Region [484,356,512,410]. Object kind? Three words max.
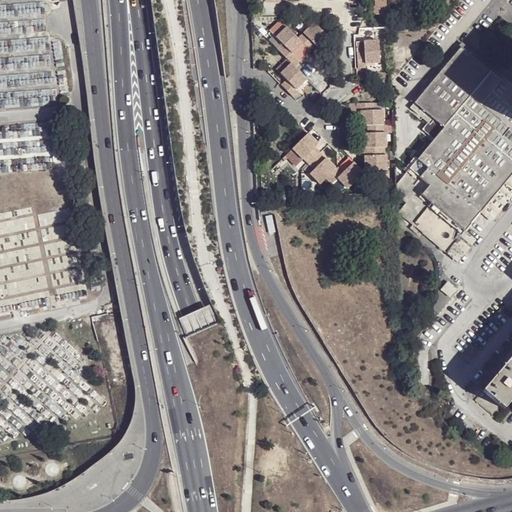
building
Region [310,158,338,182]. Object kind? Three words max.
house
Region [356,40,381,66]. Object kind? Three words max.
house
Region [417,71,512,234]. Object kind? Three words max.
building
